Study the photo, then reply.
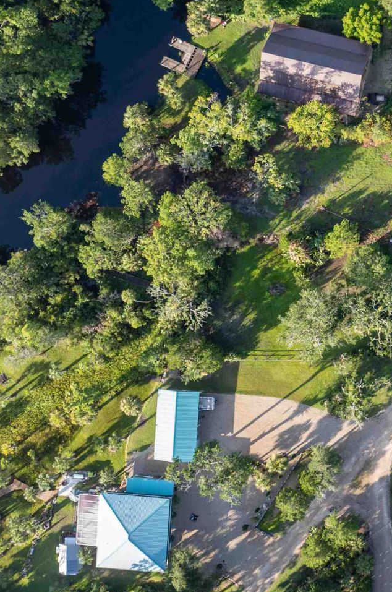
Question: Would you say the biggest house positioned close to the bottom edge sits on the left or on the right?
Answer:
left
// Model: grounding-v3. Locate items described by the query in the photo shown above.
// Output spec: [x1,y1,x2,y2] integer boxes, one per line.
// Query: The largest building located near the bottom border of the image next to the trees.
[77,472,174,572]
